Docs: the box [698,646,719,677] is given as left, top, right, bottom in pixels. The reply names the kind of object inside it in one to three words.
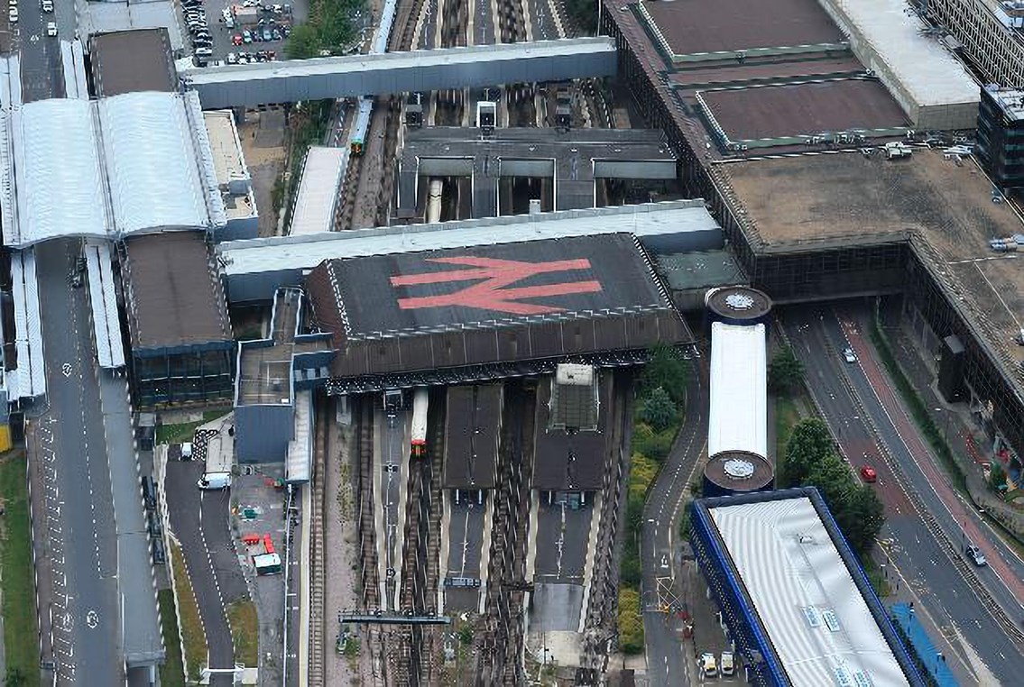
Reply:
vehicle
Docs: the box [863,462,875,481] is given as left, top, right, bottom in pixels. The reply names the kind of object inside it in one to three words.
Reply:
vehicle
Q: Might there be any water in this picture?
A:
No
